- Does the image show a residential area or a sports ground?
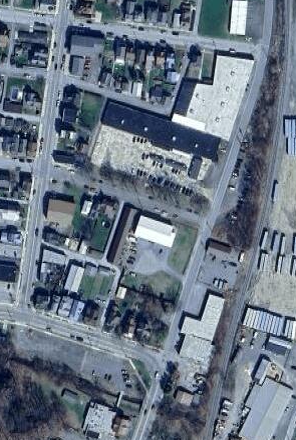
residential area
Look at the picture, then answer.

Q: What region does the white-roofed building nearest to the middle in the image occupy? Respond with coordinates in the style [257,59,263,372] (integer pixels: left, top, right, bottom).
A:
[135,214,177,248]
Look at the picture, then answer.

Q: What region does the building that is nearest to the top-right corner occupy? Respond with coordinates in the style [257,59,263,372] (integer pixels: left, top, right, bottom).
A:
[229,0,247,35]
